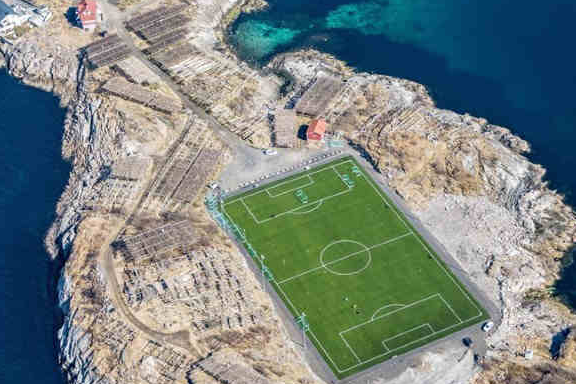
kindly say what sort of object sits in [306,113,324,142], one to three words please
house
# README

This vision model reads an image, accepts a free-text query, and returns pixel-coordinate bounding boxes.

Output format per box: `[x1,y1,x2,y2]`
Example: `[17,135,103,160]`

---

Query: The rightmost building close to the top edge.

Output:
[77,0,100,34]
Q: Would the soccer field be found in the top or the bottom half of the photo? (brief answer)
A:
bottom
